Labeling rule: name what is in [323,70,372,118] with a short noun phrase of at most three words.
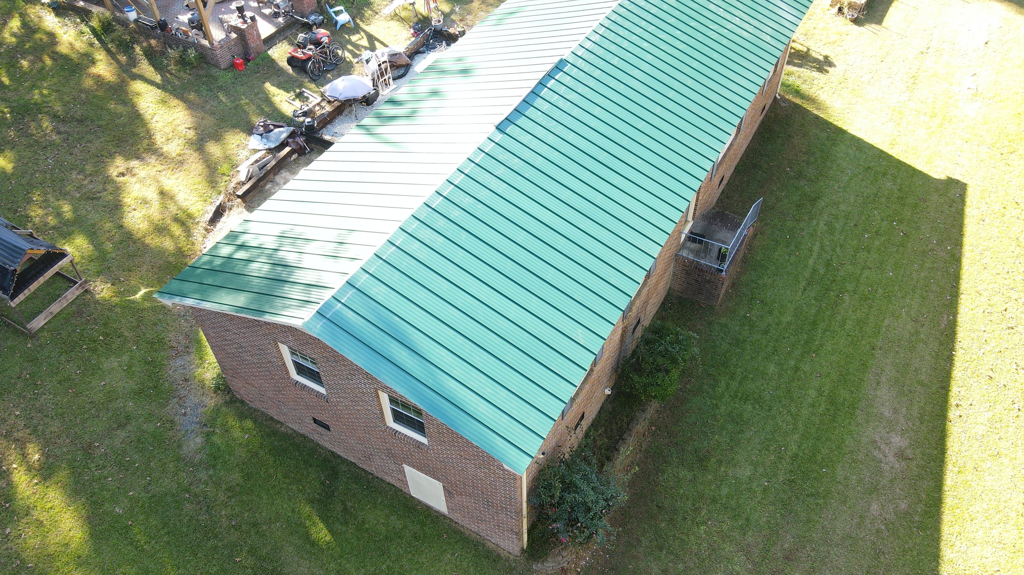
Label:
umbrella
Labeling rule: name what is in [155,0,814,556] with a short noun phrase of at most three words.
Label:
house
